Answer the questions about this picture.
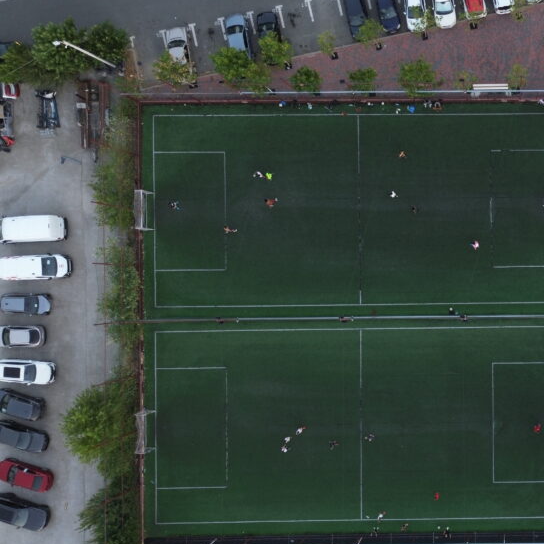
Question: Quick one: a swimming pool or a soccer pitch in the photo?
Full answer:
This aerial view contains a soccer pitch.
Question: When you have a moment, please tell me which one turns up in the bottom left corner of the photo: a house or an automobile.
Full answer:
Looking in the bottom left corner of the photo, you will find an automobile.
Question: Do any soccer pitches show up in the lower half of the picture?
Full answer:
Yes, looking in the lower half of the picture, one can make out a soccer pitch.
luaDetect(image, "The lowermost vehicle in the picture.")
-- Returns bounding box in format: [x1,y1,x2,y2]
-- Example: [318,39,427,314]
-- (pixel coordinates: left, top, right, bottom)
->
[0,495,52,529]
